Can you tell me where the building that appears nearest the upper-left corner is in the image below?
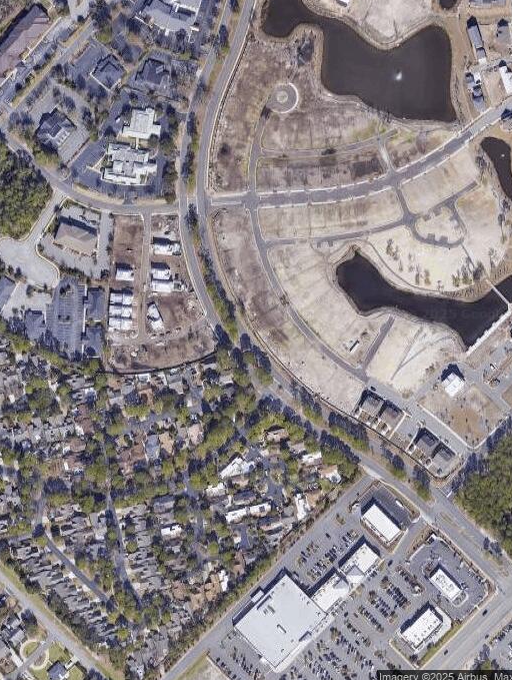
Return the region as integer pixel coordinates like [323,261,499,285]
[0,5,50,84]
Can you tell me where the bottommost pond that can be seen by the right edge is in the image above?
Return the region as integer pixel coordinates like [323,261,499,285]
[337,251,512,350]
